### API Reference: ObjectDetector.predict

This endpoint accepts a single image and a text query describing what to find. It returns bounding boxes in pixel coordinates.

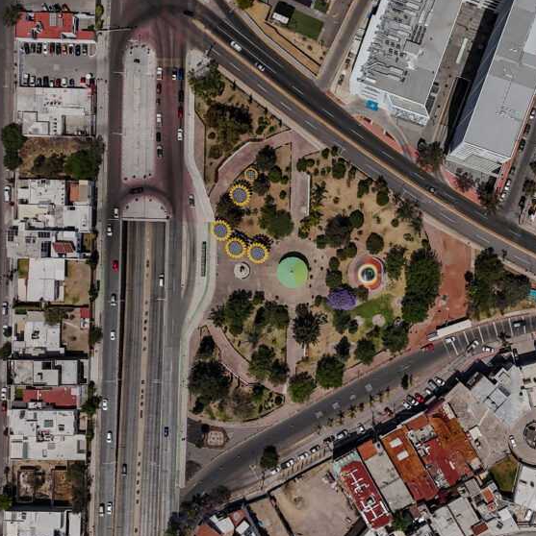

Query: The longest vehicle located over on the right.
[433,319,468,338]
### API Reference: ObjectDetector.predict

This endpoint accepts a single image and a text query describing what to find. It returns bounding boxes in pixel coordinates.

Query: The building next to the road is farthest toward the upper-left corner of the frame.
[15,12,100,45]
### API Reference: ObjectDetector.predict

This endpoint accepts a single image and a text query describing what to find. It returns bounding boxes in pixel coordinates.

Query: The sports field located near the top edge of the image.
[287,11,324,41]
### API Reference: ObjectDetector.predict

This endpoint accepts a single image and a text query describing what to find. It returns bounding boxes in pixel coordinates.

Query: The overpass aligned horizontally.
[120,194,171,219]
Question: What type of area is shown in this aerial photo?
residential area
